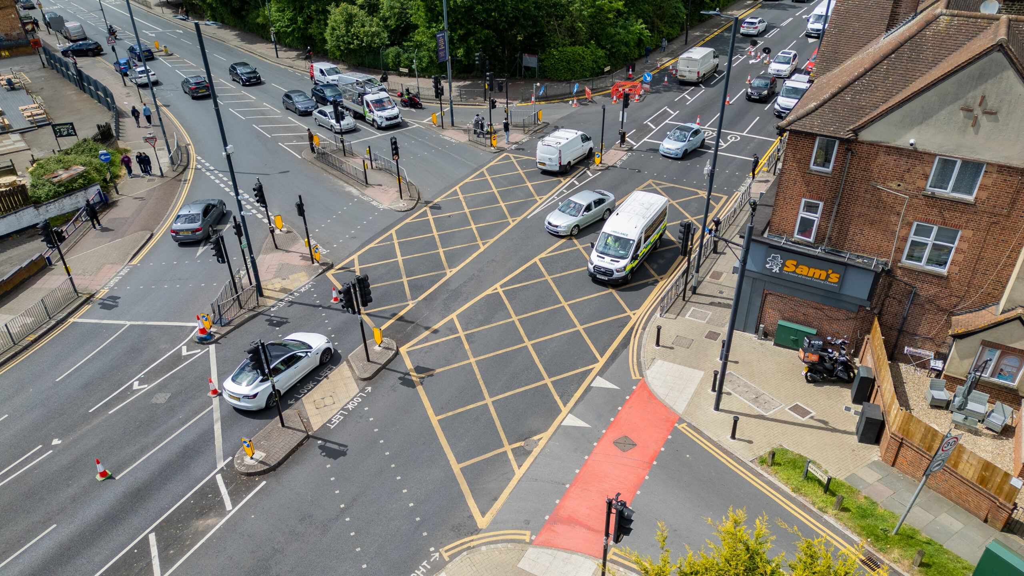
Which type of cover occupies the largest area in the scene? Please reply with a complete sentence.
Most of the picture is covered by paved ground.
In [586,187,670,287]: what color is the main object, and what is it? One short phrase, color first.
white van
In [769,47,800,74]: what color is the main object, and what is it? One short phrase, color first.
white car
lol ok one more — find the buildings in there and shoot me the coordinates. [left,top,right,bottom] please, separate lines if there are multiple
[0,0,38,63]
[728,0,1024,372]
